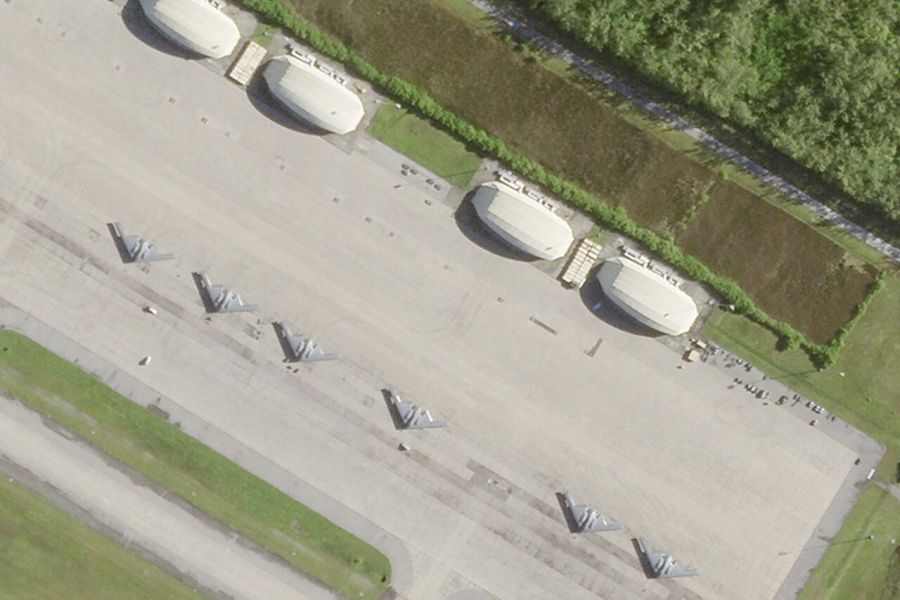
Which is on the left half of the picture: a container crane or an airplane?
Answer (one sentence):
You can see an airplane on the left half of the picture.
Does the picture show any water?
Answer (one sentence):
No, there's no water in this view.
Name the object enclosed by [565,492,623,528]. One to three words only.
airplane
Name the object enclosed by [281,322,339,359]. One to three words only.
airplane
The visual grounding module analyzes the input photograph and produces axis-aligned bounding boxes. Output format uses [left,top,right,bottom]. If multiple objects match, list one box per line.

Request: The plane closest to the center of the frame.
[390,389,448,425]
